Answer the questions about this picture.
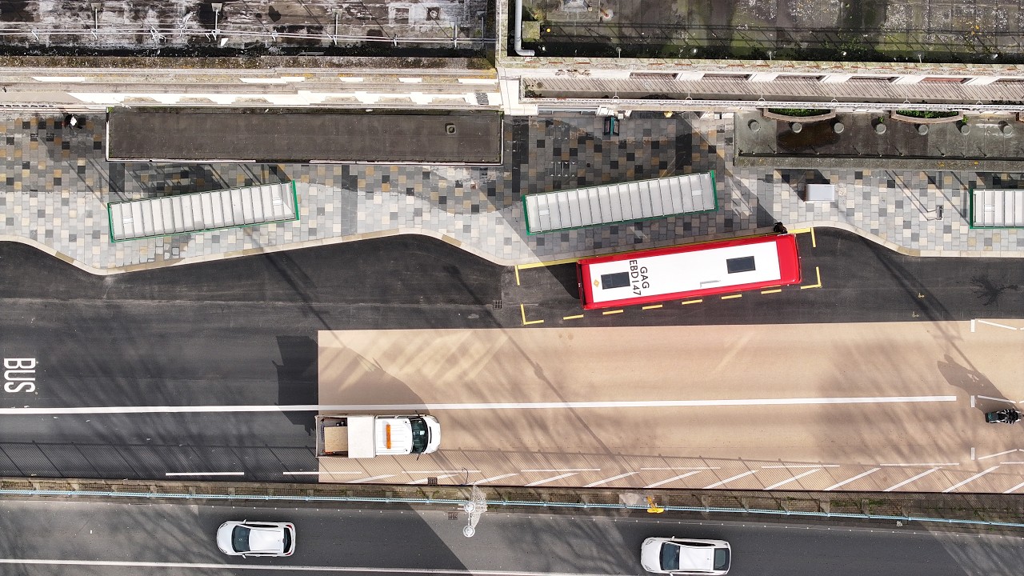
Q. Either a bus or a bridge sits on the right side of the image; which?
bus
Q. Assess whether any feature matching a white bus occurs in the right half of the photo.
Yes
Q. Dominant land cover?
paved ground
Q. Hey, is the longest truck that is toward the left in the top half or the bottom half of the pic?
bottom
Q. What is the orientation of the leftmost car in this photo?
from side to side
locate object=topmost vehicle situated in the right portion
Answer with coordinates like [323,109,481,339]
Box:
[571,232,803,310]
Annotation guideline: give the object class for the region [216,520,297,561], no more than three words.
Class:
car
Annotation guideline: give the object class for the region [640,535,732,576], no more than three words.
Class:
car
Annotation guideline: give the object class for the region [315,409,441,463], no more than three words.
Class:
truck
